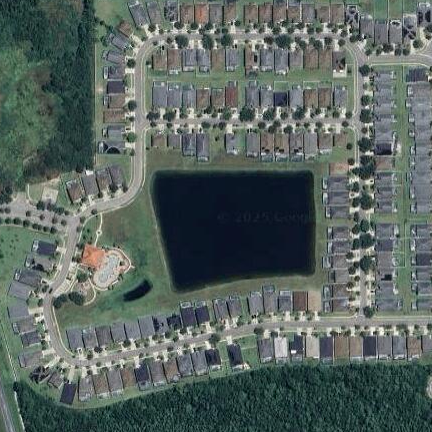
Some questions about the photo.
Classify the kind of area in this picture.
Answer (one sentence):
The area seen from above is a residential area.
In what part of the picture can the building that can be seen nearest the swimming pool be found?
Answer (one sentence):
The building that can be seen nearest the swimming pool appears toward the left of the photo.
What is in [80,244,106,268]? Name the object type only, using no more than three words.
building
